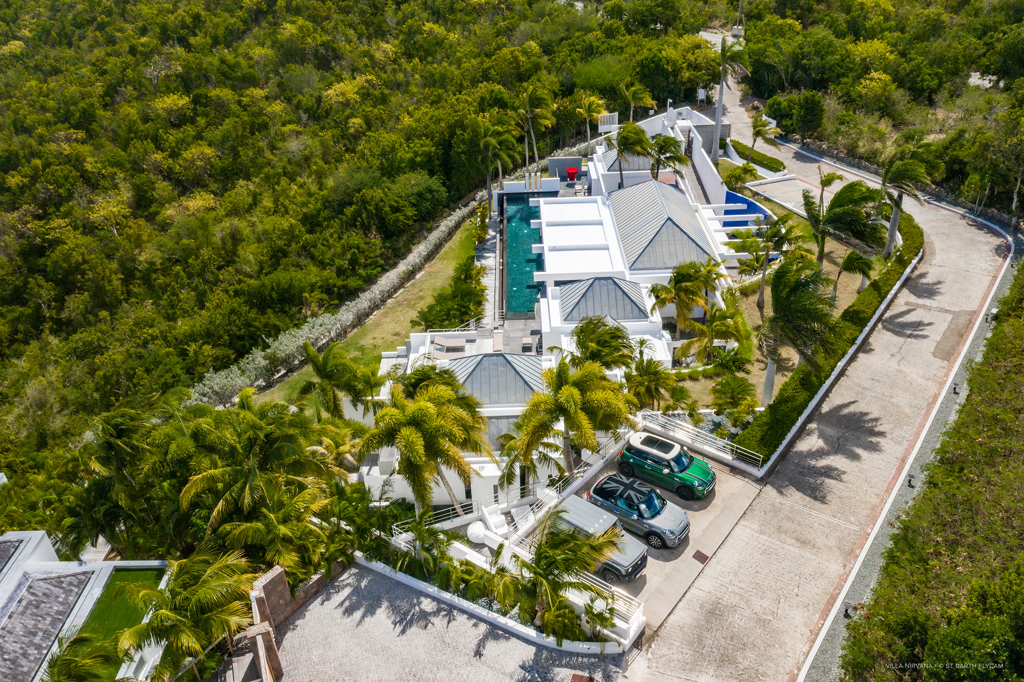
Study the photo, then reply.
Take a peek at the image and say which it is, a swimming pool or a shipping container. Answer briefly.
swimming pool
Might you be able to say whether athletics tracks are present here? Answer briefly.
No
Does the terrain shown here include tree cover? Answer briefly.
Yes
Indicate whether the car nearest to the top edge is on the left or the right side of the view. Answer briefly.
right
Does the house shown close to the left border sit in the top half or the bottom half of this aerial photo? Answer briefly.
bottom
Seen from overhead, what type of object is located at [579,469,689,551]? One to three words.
car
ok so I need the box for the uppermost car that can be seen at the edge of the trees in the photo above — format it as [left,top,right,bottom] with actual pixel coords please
[615,427,718,502]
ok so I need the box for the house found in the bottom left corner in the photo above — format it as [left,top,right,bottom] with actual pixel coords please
[0,529,178,682]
